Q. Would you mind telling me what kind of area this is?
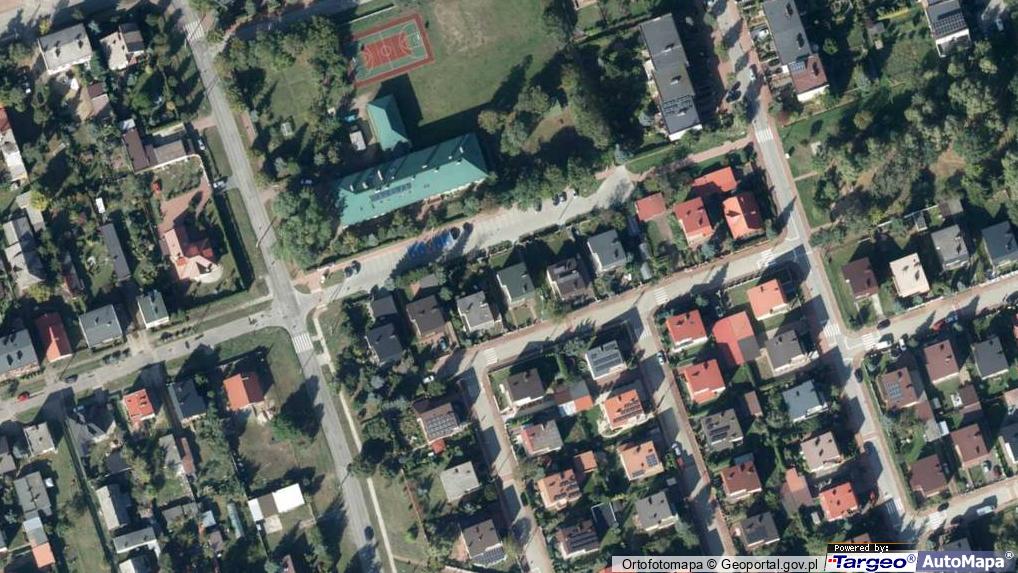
residential area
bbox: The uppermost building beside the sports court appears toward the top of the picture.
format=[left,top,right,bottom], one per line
[366,95,412,151]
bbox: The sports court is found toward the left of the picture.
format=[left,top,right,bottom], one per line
[342,14,434,87]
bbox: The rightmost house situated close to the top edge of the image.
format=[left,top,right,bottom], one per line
[919,0,973,60]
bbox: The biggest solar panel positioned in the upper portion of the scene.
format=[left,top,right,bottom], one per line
[933,14,964,37]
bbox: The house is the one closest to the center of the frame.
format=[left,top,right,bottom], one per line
[496,264,535,307]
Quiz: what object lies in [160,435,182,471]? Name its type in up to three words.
shed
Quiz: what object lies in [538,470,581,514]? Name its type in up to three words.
house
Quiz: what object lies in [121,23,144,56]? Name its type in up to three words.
house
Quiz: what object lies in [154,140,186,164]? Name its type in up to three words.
building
